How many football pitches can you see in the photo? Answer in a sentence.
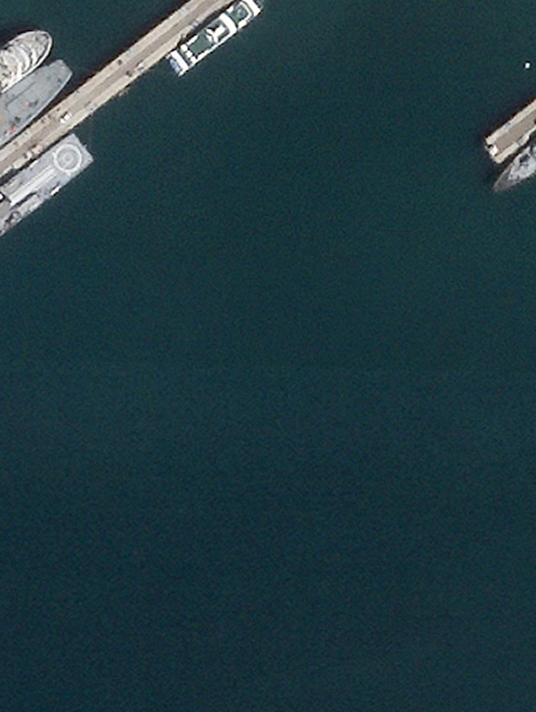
The count of football pitches is 0.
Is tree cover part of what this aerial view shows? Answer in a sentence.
No, there is no tree cover in the image.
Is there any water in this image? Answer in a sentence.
Yes, some water is visible.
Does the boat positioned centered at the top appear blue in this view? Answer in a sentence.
No, the color of the boat positioned centered at the top is white.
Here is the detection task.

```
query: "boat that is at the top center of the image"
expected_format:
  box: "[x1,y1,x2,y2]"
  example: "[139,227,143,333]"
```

[156,0,266,76]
